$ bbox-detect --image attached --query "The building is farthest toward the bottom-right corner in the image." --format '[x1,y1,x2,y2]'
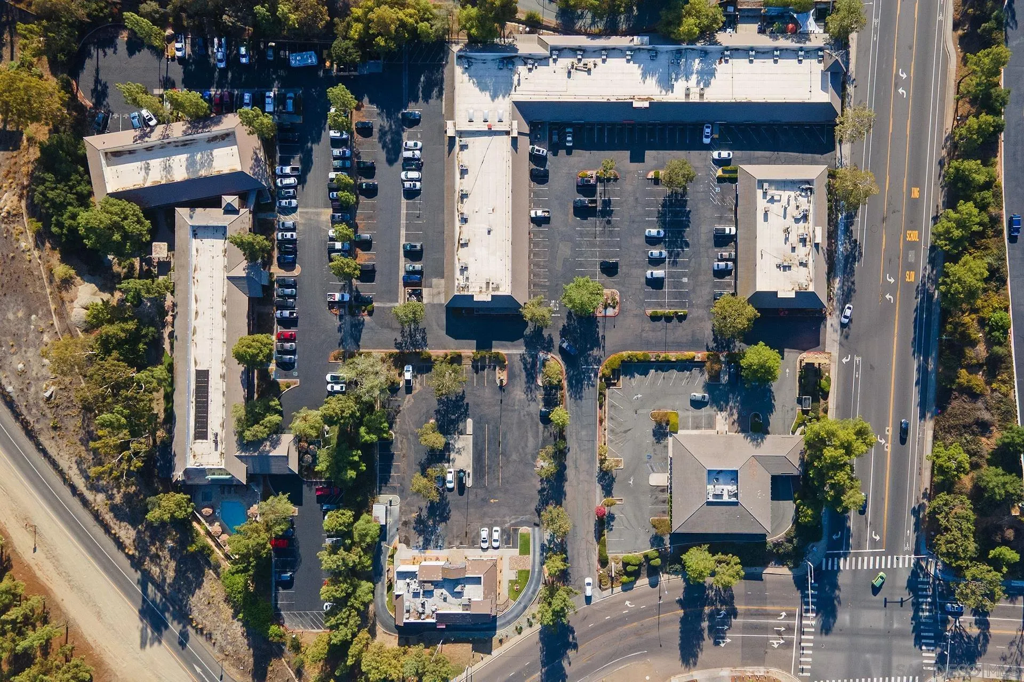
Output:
[671,434,802,533]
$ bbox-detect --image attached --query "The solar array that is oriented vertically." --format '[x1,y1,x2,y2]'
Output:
[193,370,209,443]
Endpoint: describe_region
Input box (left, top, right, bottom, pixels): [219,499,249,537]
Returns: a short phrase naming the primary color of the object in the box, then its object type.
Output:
blue swimming pool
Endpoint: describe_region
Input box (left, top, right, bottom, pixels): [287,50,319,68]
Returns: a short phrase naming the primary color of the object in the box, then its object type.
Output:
blue camper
